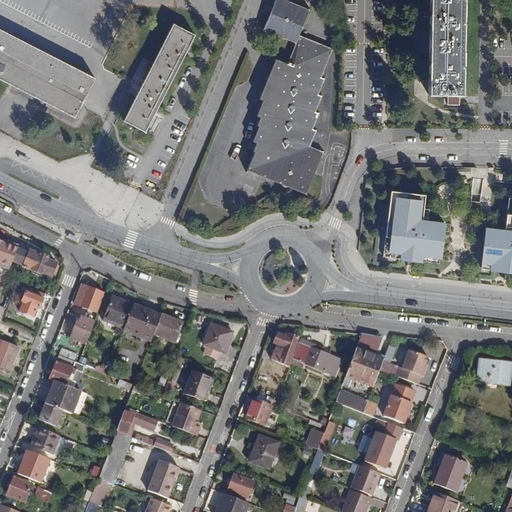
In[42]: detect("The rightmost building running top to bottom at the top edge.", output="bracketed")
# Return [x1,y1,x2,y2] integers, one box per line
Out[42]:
[430,0,467,100]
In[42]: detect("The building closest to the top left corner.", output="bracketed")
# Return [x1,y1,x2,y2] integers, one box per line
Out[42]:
[0,29,96,118]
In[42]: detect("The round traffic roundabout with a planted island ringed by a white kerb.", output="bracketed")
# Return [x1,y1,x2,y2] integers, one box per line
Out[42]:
[239,228,327,316]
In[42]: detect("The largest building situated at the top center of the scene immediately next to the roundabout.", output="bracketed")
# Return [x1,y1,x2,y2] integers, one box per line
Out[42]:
[246,36,332,194]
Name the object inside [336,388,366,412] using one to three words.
house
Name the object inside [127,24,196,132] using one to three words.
building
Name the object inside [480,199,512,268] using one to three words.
building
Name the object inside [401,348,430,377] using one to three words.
house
